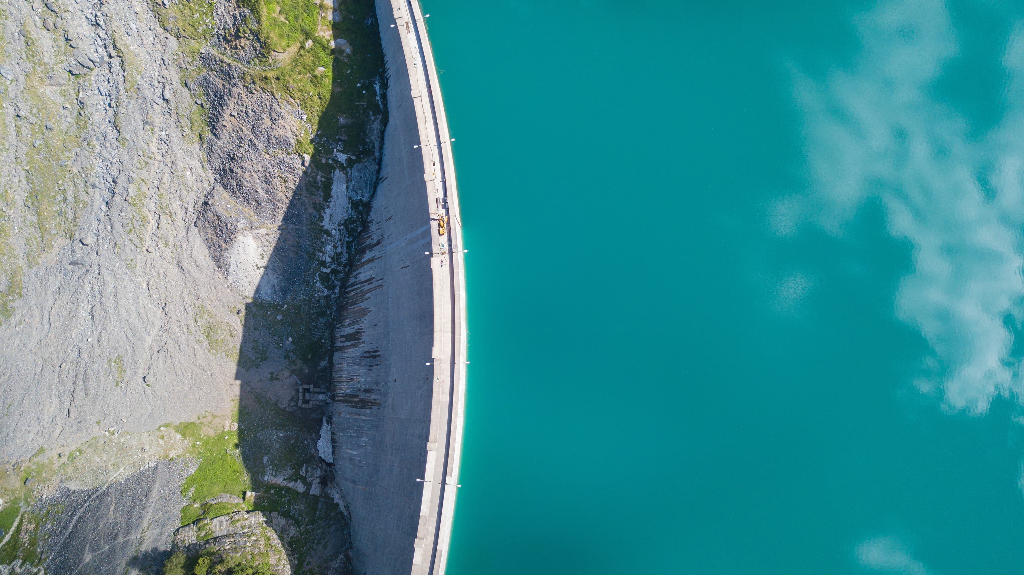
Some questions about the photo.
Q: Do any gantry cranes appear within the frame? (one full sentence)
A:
No, the picture doesn't show any gantry crane.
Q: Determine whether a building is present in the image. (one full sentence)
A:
No, the photo shows no building.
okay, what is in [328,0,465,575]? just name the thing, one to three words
dam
